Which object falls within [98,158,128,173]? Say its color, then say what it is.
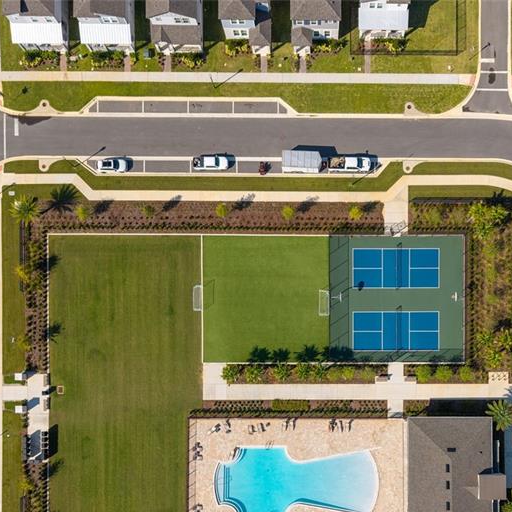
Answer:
white car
